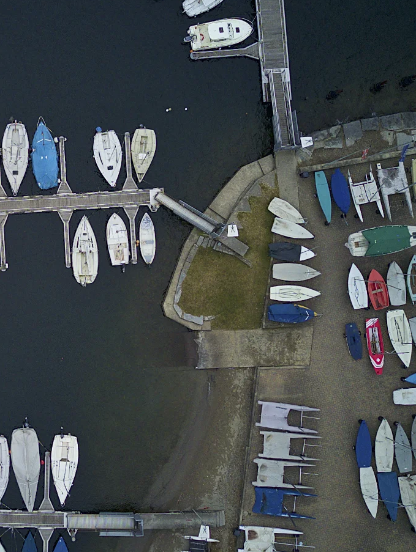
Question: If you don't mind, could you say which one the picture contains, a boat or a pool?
boat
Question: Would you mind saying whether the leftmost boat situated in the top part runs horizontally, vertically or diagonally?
vertically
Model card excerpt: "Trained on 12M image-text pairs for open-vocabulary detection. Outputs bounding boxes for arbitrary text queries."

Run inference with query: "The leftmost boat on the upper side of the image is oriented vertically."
[2,110,29,208]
